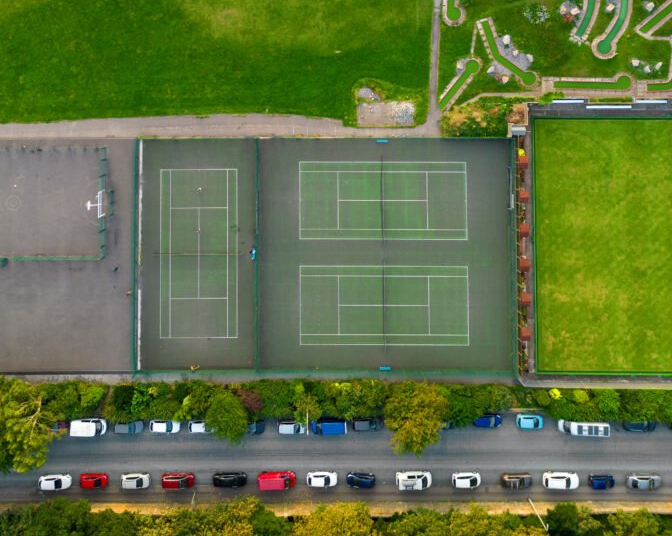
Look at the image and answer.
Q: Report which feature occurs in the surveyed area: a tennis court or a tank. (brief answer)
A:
tennis court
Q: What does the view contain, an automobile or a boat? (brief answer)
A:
automobile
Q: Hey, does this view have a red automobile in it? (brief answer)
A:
Yes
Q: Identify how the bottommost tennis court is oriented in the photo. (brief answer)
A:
from side to side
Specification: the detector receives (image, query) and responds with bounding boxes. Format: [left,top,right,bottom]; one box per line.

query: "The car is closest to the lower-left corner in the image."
[40,473,71,491]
